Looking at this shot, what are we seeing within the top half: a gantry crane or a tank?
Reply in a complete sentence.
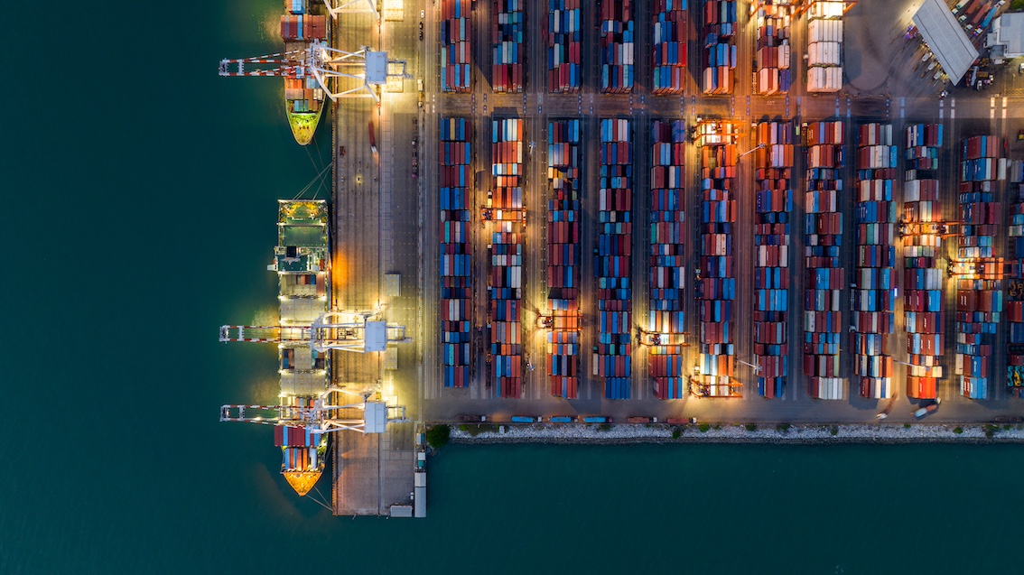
The one visible within the top half is a gantry crane.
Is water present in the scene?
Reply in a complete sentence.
Yes, the picture does contain water.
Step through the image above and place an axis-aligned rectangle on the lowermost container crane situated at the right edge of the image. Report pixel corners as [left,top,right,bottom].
[952,258,1023,279]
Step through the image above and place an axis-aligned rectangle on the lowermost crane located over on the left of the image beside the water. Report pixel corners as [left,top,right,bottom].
[220,382,413,434]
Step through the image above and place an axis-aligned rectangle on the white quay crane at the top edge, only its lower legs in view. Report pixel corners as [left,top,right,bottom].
[322,0,380,27]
